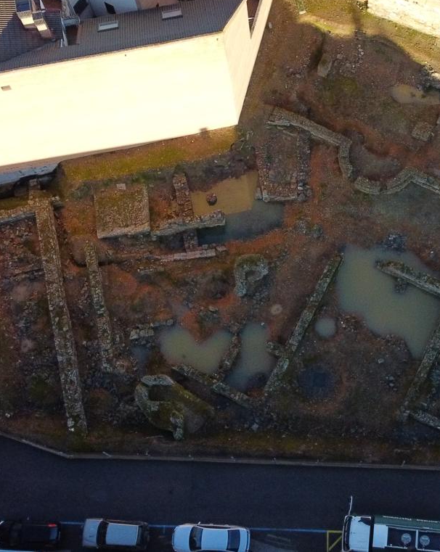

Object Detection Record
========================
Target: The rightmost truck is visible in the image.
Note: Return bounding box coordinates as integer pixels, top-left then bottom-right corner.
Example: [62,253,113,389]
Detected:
[338,494,440,552]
